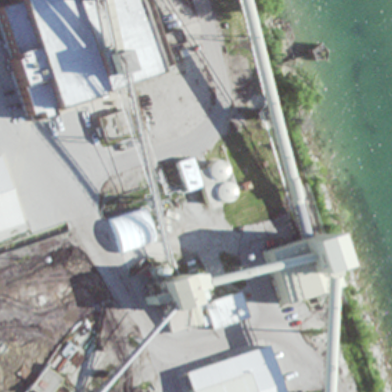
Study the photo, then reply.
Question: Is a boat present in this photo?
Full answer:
No, the frame has no boat in it.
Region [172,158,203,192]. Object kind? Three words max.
building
